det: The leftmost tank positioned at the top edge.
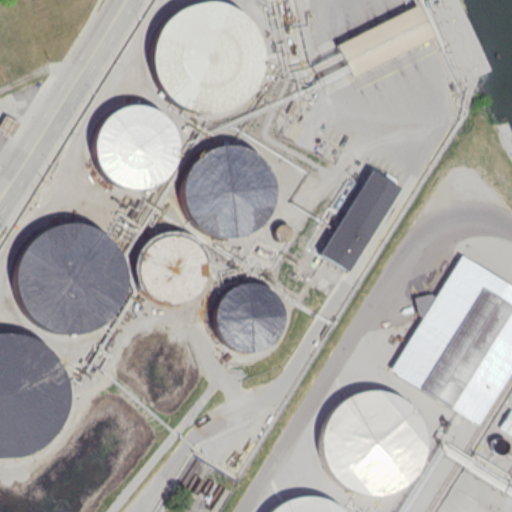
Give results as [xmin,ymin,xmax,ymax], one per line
[150,0,270,117]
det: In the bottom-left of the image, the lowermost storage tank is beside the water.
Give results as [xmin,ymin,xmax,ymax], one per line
[0,332,72,460]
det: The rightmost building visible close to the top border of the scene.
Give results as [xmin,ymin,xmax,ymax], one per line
[336,6,435,78]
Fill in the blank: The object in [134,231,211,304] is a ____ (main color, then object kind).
white storage tank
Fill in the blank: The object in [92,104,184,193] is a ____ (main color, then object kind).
white storage tank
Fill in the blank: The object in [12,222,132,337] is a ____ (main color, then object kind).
gray storage tank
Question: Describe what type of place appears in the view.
industrial area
